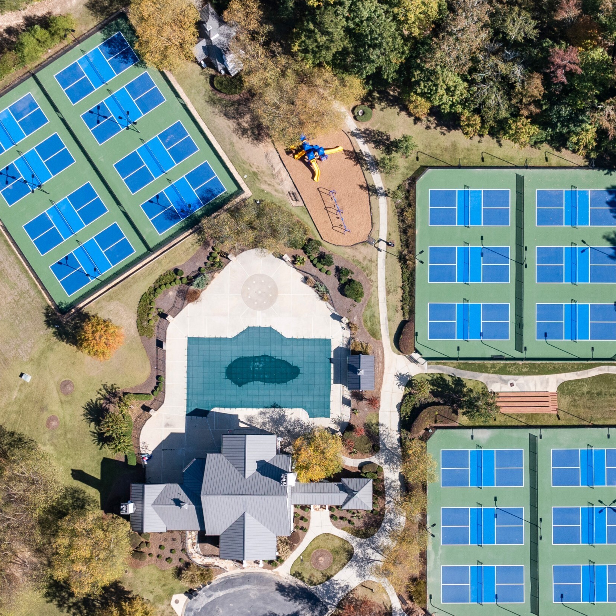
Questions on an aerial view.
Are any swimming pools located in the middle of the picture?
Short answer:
Yes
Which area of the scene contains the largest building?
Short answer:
bottom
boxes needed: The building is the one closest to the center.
[348,355,375,390]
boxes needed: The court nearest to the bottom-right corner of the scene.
[553,563,616,605]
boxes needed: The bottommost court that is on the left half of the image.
[48,222,136,297]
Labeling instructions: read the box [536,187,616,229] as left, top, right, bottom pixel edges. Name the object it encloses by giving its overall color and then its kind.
blue sports court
